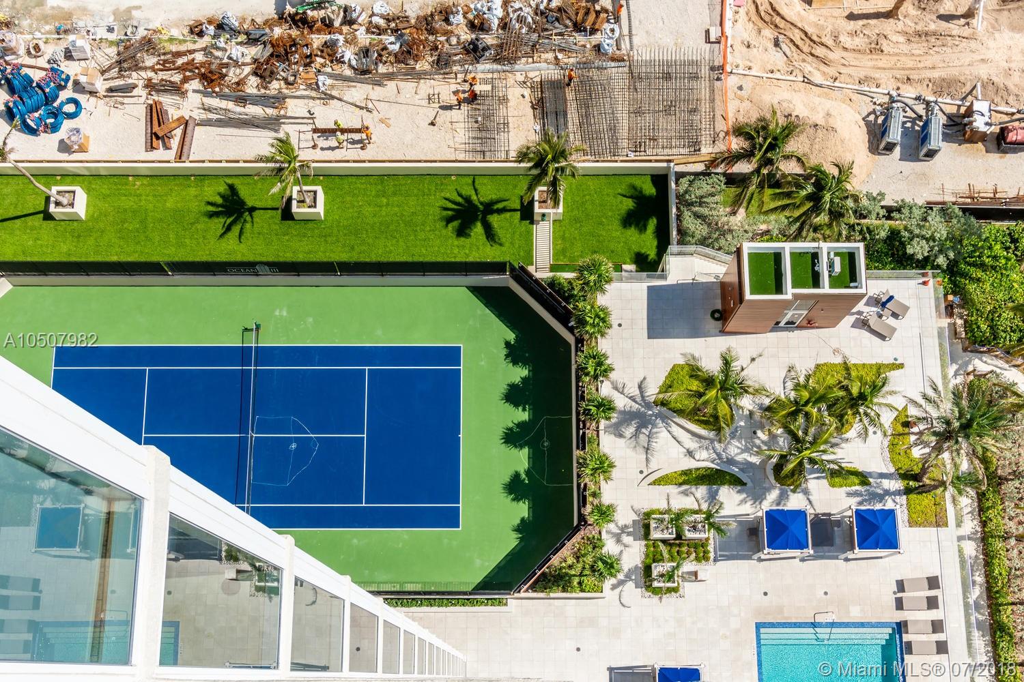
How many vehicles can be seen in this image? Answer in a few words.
0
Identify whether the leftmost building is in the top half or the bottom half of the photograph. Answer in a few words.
bottom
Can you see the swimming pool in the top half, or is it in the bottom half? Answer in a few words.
bottom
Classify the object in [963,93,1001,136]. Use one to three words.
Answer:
storage tank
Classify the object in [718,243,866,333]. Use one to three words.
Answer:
building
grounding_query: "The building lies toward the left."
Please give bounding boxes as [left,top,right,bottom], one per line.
[0,359,465,677]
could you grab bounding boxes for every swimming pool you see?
[750,617,912,682]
